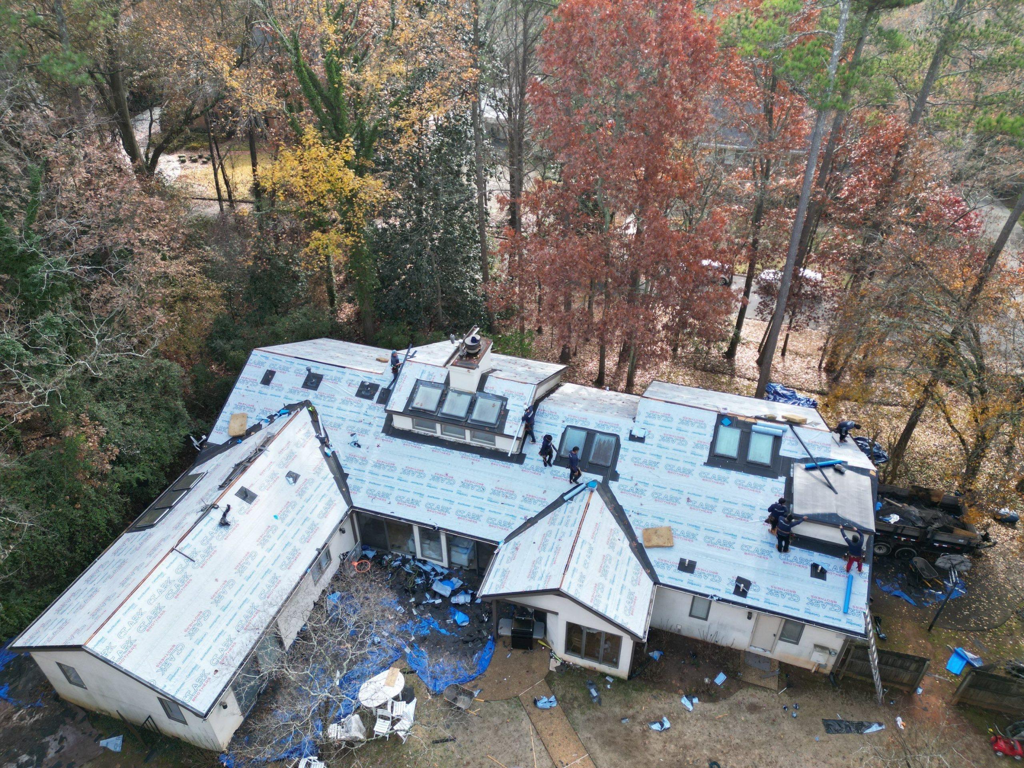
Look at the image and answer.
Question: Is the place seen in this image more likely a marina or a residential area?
residential area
